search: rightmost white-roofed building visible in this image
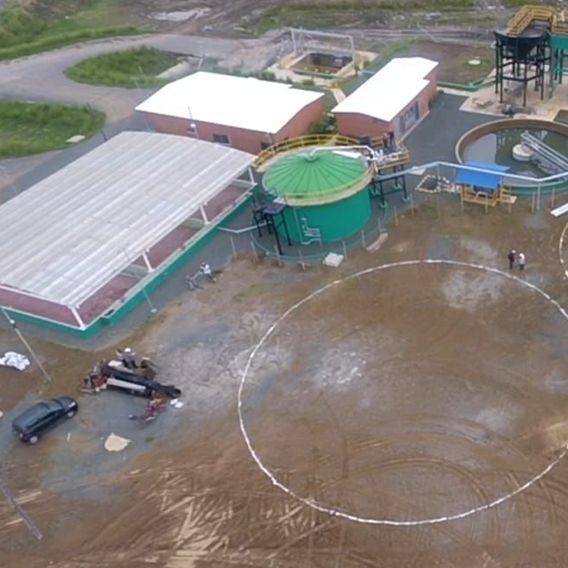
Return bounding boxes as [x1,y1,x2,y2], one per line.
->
[333,57,443,145]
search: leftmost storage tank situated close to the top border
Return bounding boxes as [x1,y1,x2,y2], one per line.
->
[494,24,549,105]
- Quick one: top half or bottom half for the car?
bottom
